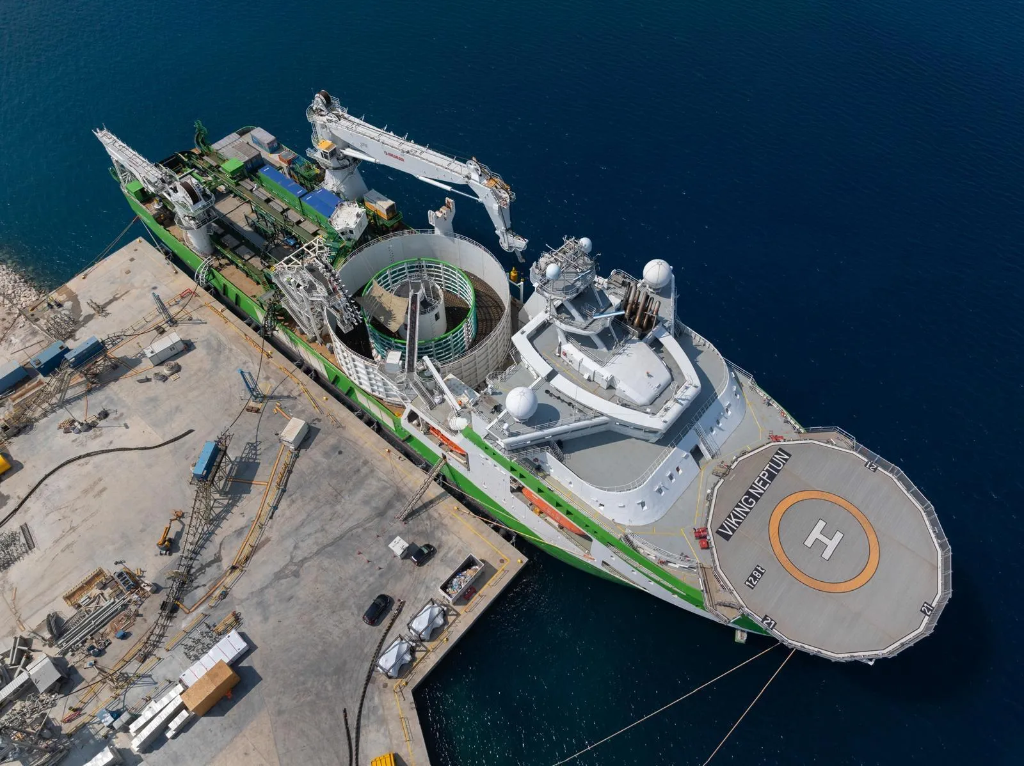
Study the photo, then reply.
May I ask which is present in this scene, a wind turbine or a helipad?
helipad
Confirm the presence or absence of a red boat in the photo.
Yes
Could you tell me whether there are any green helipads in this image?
No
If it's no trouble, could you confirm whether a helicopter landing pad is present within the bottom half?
Yes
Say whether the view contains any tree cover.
No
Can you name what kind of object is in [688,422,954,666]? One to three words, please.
helipad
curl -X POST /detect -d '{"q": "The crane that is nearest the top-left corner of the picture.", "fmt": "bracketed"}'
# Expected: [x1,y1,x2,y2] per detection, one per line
[89,126,216,256]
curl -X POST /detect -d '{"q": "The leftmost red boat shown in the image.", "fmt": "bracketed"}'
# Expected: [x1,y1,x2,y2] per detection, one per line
[431,427,467,459]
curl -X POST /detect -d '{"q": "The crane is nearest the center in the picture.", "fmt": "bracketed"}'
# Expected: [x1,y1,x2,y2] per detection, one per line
[425,357,467,433]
